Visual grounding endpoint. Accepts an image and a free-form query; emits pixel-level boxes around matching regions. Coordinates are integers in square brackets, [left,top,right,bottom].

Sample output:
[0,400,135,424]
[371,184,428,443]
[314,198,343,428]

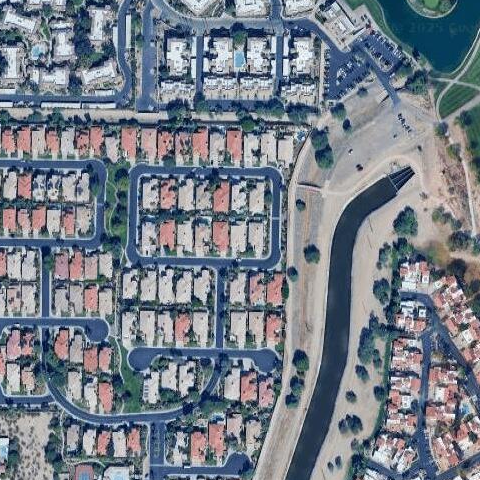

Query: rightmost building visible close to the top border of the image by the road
[320,0,357,44]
